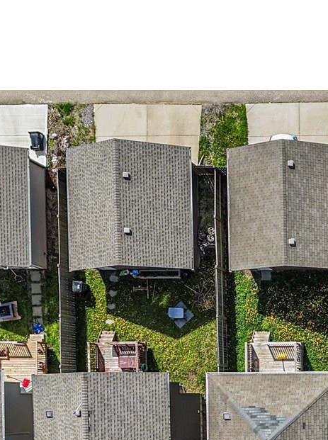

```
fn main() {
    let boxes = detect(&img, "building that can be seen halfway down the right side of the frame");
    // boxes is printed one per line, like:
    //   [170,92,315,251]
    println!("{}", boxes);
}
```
[226,140,328,275]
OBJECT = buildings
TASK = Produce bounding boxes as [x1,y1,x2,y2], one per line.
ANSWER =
[205,370,328,440]
[0,145,47,270]
[32,370,199,440]
[65,139,201,275]
[226,140,328,275]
